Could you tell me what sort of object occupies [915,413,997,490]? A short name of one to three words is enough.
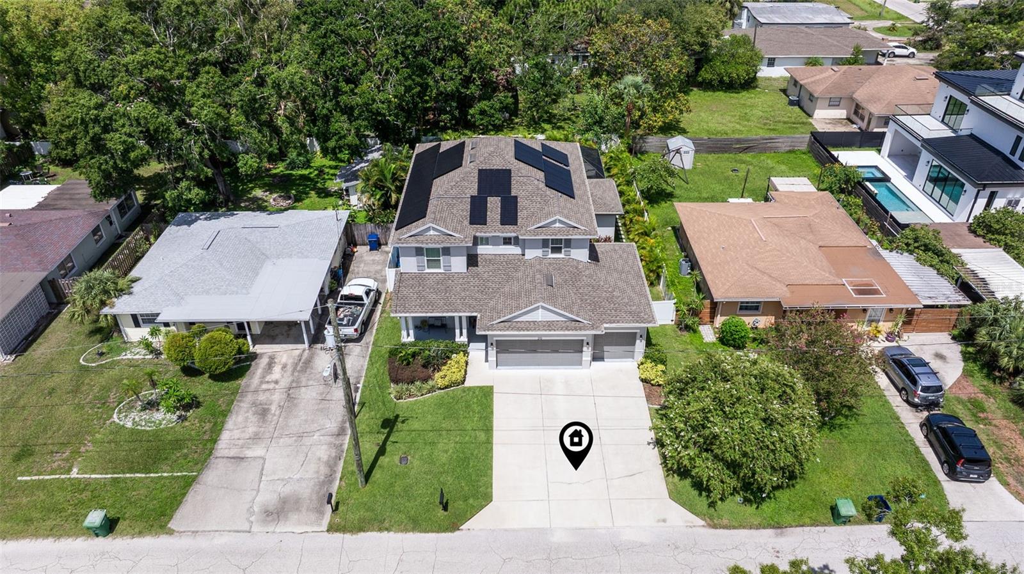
car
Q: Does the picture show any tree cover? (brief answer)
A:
Yes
